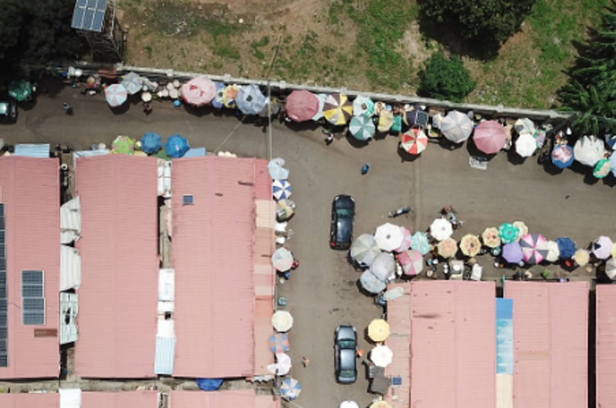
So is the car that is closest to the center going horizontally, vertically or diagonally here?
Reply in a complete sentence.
I'd say the car that is closest to the center is aligned vertically in the picture.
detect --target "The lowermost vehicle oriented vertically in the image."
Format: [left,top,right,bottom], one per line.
[332,324,361,384]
